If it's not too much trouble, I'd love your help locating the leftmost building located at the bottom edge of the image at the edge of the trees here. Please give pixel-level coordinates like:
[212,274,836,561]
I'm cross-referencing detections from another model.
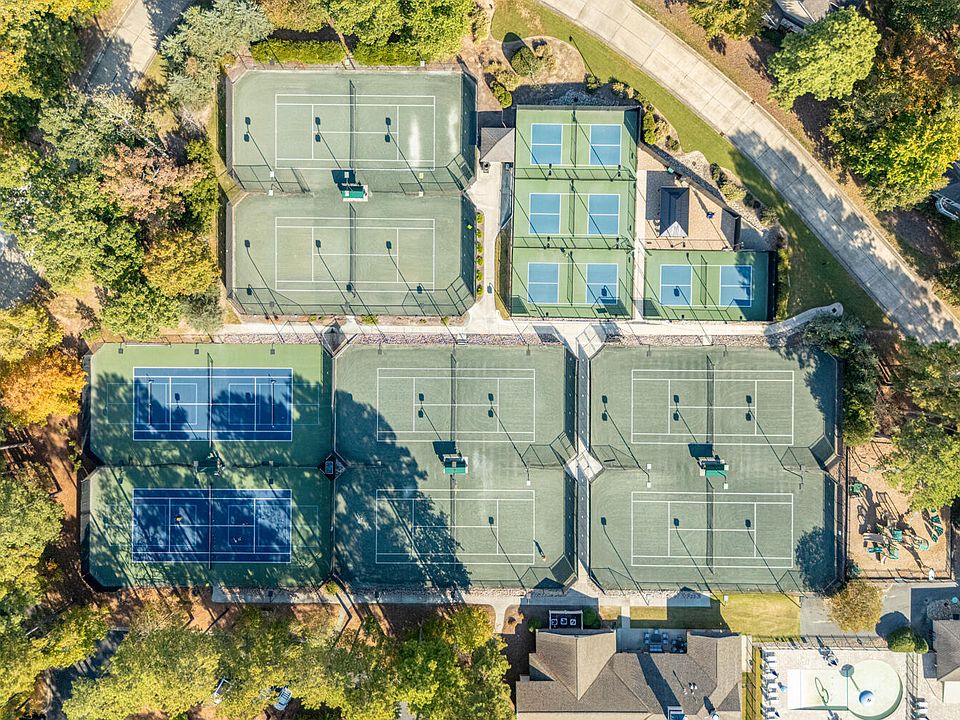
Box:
[517,624,741,720]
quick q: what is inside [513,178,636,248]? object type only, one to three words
sports court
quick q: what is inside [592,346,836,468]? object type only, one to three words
tennis court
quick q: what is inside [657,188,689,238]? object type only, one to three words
building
